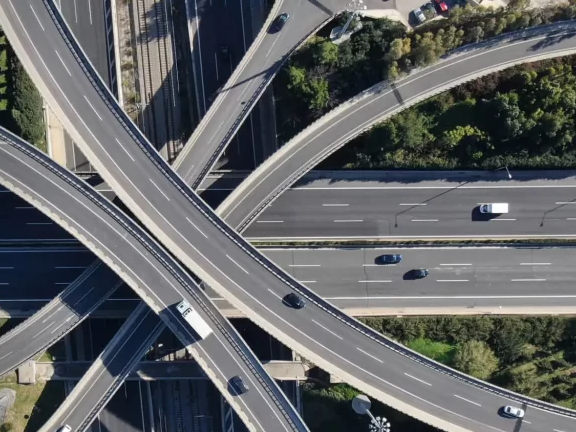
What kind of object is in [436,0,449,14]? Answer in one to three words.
vehicle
